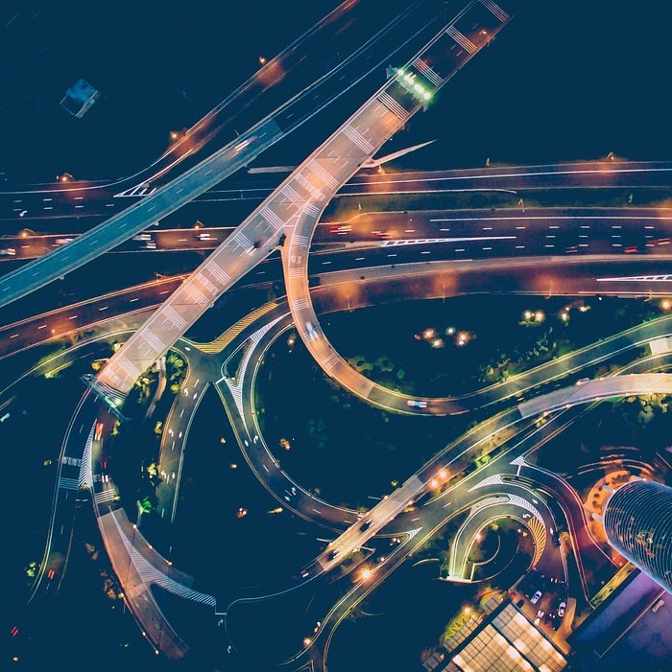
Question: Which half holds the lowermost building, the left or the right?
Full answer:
It is on the right.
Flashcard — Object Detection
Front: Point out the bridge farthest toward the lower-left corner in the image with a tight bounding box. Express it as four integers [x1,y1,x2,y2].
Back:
[94,501,217,672]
